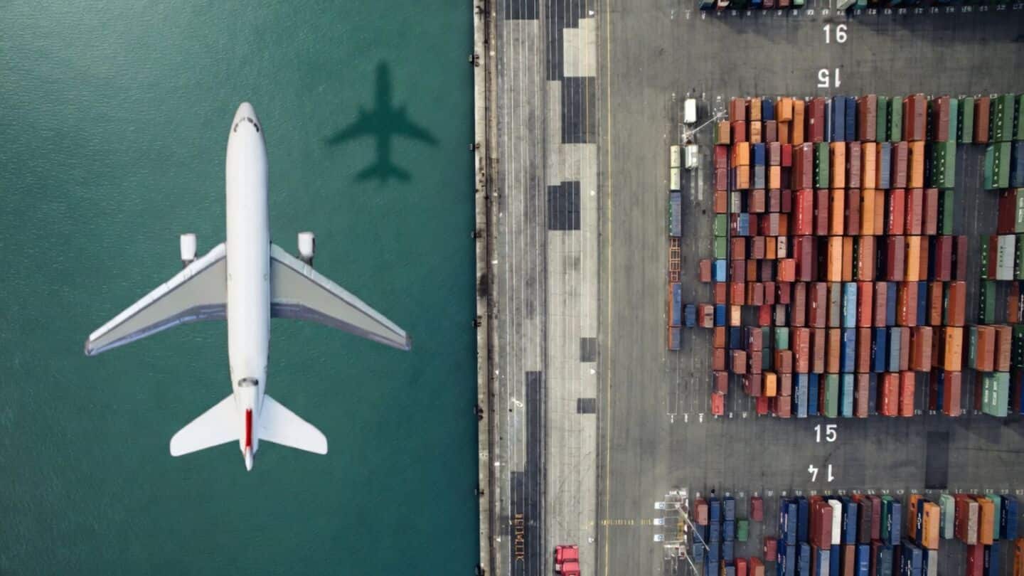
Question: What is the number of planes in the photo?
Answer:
1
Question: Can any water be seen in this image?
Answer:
Yes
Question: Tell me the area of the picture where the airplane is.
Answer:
left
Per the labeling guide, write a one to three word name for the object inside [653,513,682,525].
vehicle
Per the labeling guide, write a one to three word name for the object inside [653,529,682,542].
vehicle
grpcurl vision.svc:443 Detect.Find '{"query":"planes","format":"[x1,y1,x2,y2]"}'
[81,103,411,479]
